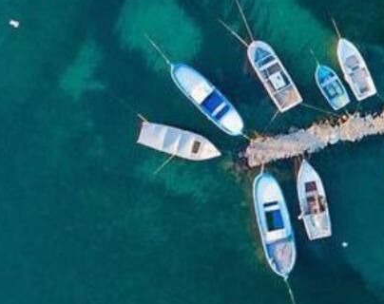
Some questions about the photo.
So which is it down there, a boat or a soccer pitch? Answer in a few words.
boat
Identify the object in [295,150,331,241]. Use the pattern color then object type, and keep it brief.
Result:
white boat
